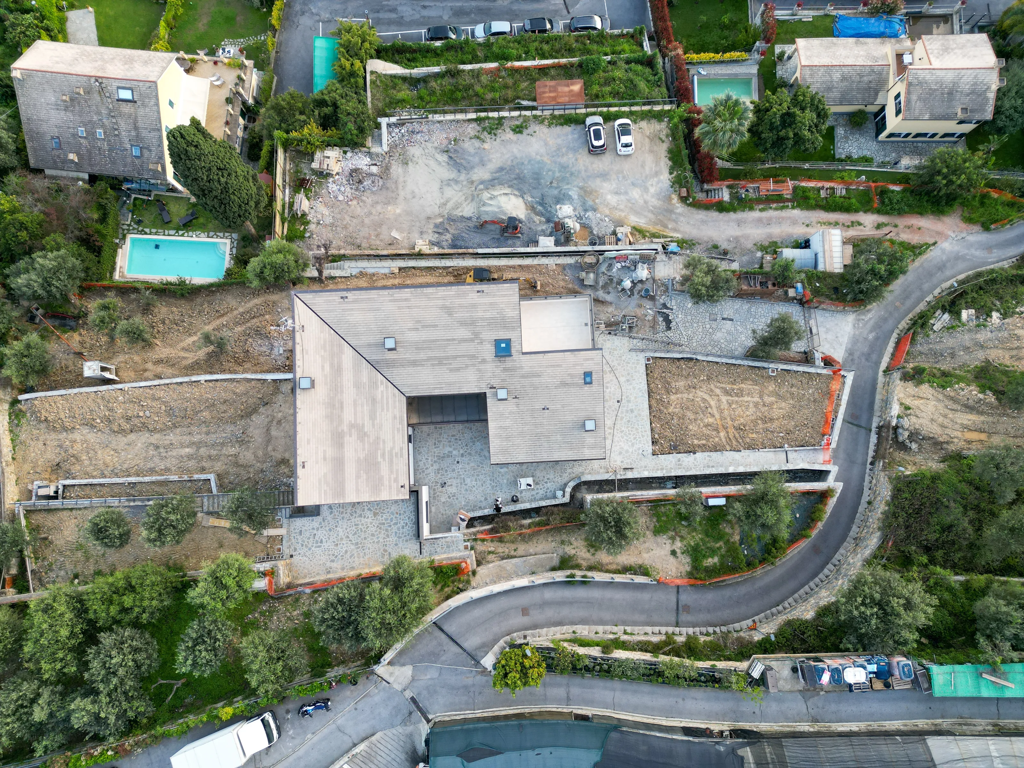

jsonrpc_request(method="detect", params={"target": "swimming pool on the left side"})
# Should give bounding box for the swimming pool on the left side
[114,234,231,280]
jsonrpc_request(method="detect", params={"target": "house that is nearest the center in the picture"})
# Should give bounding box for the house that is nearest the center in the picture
[286,280,607,541]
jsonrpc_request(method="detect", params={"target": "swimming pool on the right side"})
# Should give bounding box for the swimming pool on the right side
[689,73,760,112]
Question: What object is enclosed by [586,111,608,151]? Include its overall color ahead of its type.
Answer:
white car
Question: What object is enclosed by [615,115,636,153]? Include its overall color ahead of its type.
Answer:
white car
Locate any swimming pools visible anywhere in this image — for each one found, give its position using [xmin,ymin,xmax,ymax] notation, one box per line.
[114,234,231,280]
[689,73,760,112]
